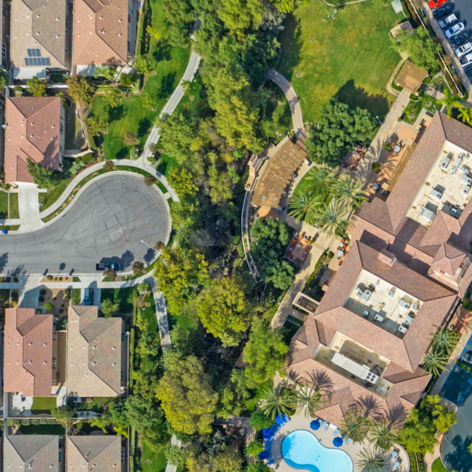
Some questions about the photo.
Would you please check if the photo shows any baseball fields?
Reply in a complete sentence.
No, the frame has no baseball field in it.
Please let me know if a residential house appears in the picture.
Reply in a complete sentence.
Yes, the photo shows a residential house.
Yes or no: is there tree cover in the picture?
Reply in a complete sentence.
Yes, some tree cover is visible.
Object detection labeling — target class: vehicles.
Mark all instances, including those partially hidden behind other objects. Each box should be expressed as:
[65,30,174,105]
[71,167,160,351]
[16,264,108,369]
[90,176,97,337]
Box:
[429,0,450,11]
[453,41,472,58]
[432,5,454,20]
[83,286,93,307]
[449,31,470,47]
[458,52,472,68]
[462,352,472,363]
[444,23,465,38]
[97,261,122,271]
[435,12,459,30]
